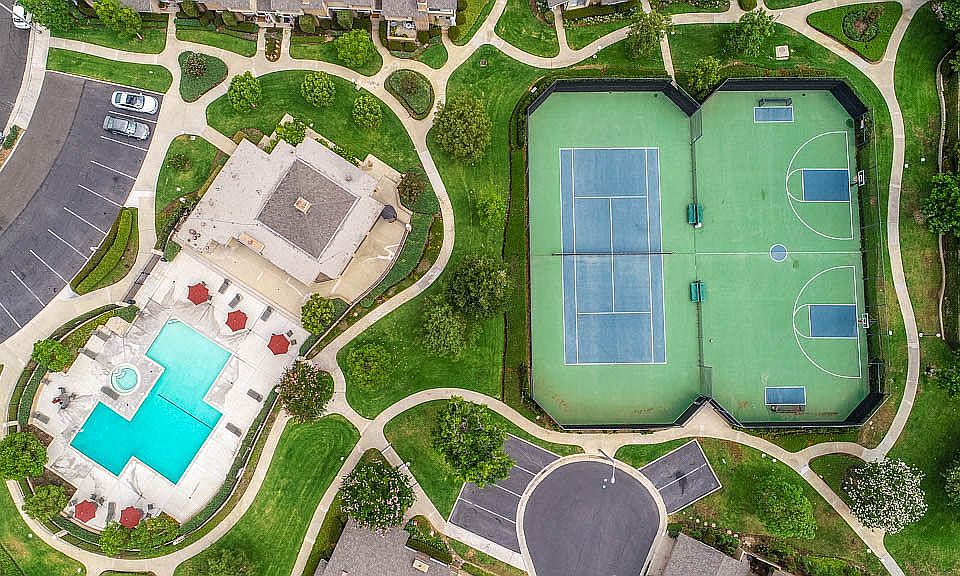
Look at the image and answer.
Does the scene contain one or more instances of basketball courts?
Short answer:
Yes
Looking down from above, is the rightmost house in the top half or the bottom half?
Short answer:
bottom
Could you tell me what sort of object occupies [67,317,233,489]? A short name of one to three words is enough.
swimming pool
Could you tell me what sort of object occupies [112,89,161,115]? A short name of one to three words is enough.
car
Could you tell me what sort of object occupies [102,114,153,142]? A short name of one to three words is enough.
car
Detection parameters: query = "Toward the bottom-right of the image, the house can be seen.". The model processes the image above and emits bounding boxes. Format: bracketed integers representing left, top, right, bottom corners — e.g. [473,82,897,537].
[662,533,752,576]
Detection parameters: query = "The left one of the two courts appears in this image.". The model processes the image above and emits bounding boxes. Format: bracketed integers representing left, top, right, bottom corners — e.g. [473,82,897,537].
[530,92,701,424]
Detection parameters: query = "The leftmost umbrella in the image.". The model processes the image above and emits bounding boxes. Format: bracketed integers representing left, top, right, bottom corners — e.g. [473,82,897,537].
[75,498,102,523]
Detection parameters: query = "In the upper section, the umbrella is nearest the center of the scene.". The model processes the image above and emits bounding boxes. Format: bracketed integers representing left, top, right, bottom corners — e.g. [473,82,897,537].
[381,205,398,220]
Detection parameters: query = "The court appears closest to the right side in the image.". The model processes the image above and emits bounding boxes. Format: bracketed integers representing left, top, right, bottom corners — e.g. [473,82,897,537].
[690,91,870,423]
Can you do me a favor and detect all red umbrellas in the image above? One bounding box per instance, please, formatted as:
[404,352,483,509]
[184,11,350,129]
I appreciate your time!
[267,332,291,356]
[75,498,102,523]
[224,309,248,332]
[188,281,211,305]
[119,506,145,531]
